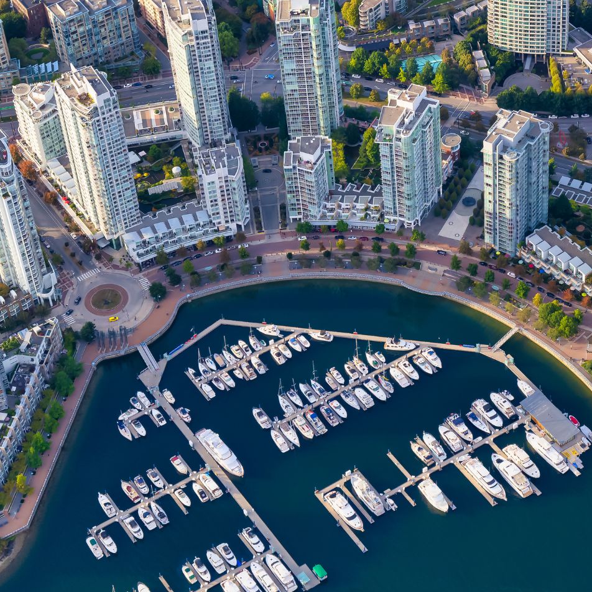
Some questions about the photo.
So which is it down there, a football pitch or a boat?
boat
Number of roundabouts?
1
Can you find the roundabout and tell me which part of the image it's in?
left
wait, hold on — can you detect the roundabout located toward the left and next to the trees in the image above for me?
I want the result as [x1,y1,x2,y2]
[65,269,147,330]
